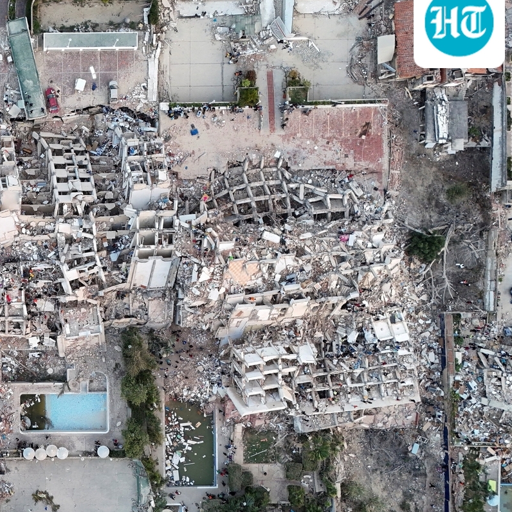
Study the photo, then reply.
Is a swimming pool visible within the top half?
No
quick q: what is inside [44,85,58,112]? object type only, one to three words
car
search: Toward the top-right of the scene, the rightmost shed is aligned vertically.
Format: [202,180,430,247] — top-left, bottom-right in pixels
[484,83,506,193]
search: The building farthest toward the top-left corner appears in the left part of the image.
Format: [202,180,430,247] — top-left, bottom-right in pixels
[41,31,138,57]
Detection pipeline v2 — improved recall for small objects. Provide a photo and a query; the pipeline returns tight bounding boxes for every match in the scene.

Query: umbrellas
[45,445,57,457]
[34,448,46,460]
[96,445,109,458]
[56,447,68,460]
[23,447,34,459]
